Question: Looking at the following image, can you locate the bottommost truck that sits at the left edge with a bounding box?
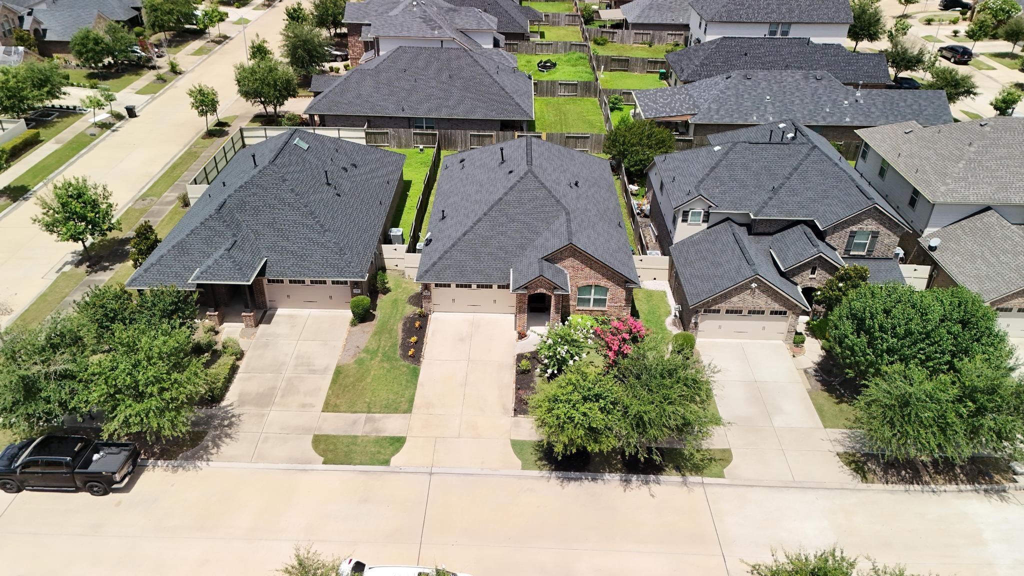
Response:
[0,440,140,501]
